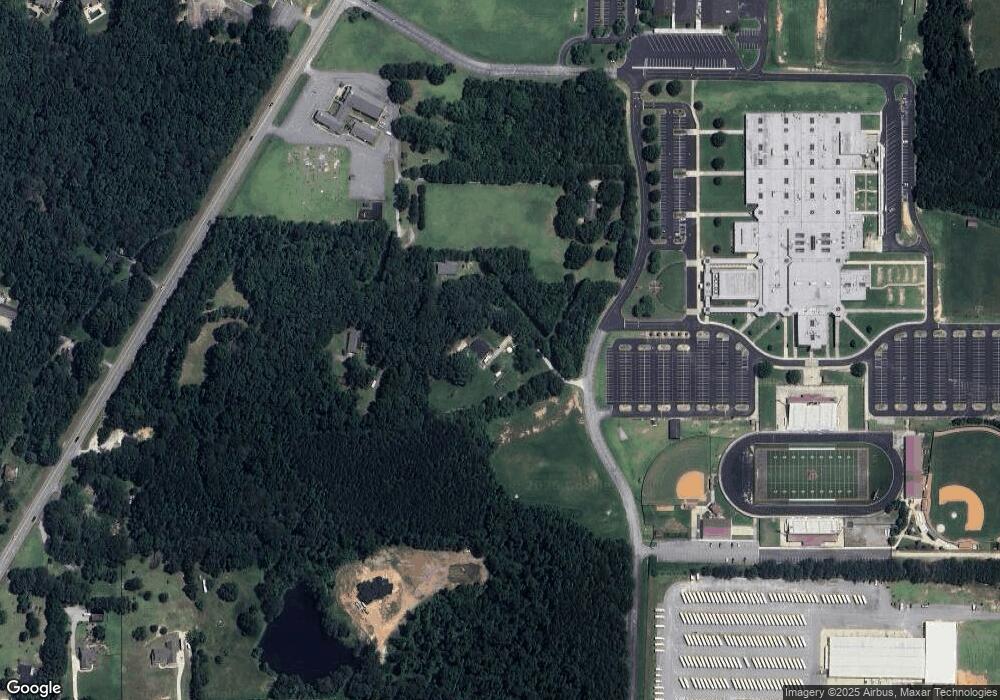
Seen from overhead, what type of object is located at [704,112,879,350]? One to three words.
building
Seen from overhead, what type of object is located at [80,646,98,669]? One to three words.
house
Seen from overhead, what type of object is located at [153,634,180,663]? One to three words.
house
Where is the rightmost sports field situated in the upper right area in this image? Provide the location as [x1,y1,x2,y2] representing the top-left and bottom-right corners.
[826,0,902,64]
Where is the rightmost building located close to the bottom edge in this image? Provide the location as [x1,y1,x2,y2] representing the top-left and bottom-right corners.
[924,622,957,686]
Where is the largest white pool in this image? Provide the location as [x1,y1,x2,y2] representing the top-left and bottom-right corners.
[84,3,105,23]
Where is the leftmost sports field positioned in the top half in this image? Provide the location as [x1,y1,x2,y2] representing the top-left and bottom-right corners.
[784,0,814,62]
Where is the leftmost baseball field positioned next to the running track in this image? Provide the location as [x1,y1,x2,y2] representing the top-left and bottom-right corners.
[642,436,710,506]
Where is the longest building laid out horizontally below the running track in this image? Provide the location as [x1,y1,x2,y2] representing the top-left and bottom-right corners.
[828,637,925,679]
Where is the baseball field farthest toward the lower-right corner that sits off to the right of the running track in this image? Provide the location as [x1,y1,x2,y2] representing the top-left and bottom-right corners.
[927,425,1000,552]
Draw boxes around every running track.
[719,431,904,517]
